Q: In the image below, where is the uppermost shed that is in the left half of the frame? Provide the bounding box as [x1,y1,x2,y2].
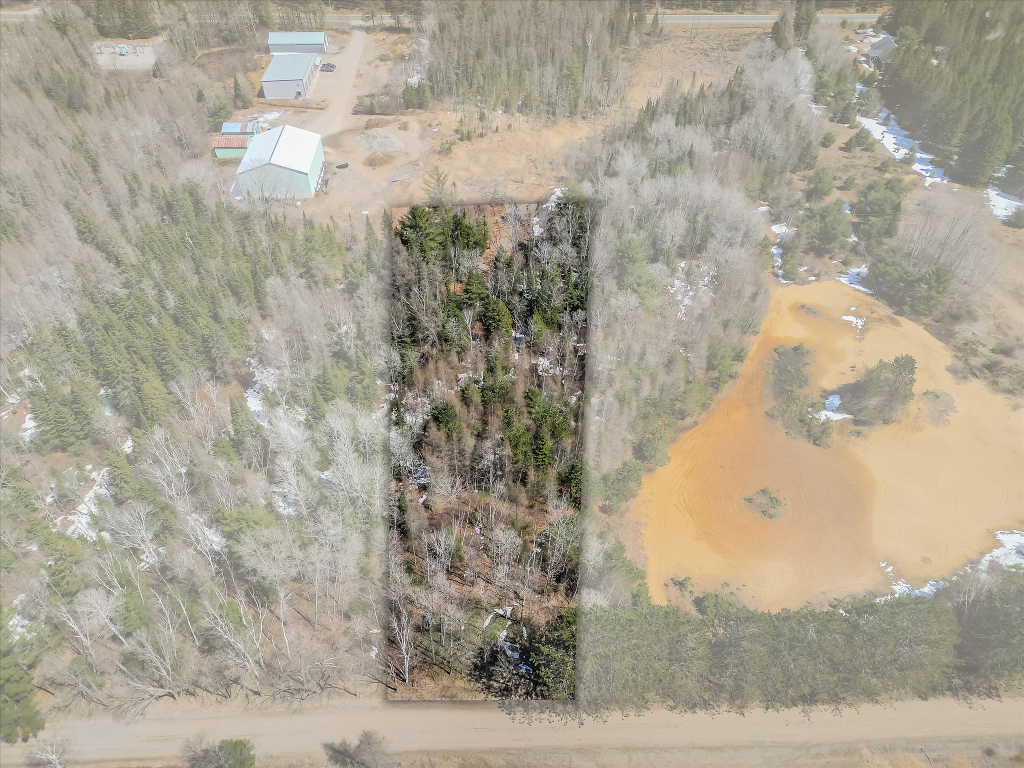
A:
[267,31,331,53]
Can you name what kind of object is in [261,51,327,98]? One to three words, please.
building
